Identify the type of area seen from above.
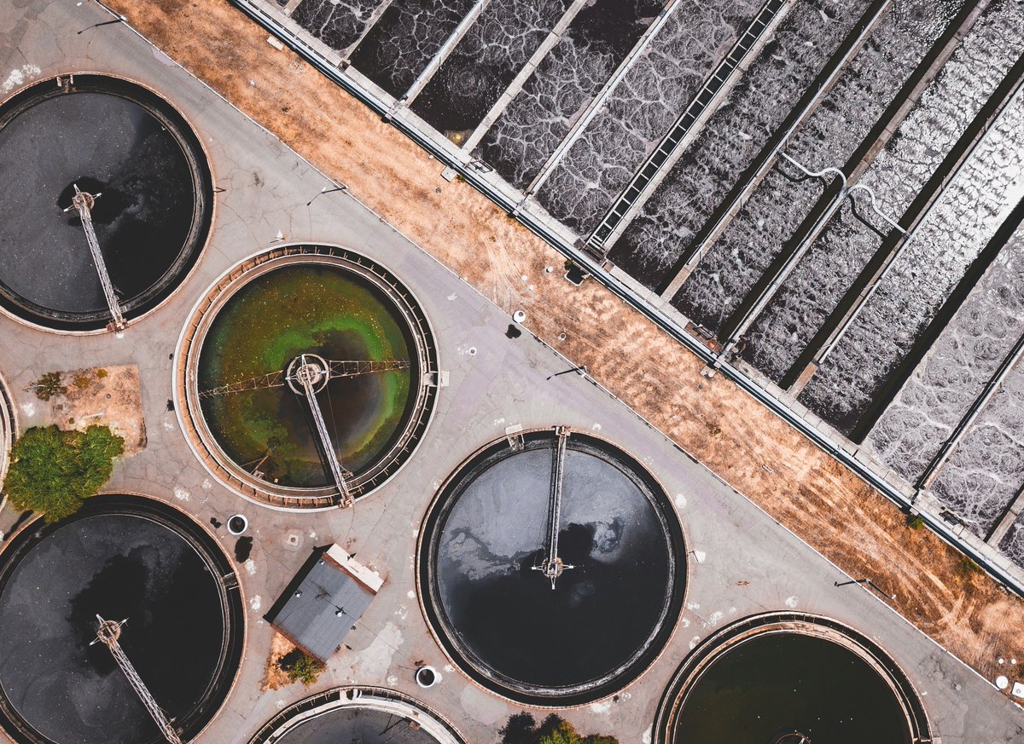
industrial area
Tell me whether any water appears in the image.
Yes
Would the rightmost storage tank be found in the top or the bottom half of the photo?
bottom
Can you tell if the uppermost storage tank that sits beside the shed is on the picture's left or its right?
left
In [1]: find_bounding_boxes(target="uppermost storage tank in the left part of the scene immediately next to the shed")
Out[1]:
[172,244,450,512]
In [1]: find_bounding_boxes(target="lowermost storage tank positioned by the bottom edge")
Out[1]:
[245,684,471,744]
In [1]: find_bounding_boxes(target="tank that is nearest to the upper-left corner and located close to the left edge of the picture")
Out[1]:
[0,70,218,335]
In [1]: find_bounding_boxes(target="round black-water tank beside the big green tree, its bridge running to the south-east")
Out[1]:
[0,490,249,744]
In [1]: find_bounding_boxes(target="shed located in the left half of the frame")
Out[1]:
[272,543,384,661]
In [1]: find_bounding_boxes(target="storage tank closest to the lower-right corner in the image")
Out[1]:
[652,611,939,744]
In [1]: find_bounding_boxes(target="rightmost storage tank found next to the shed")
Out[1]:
[416,422,690,712]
